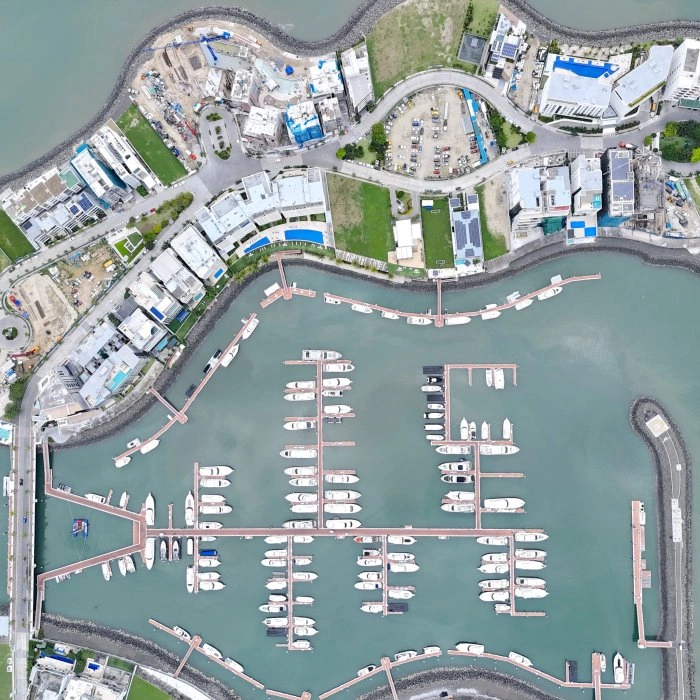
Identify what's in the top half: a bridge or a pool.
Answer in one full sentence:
You can see a pool in the top half.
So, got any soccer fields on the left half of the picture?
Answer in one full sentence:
No, no soccer field can be made out on the left half of the picture.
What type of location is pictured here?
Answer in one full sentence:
What you see here is a port.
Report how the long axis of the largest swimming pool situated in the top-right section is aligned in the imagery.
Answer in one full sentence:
What the image shows is the largest swimming pool situated in the top-right section lying from side to side.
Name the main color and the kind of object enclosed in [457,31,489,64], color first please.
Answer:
gray sports court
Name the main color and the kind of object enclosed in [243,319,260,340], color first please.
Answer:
white boat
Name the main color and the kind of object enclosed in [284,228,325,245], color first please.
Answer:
blue swimming pool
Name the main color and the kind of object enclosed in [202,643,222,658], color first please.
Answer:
white boat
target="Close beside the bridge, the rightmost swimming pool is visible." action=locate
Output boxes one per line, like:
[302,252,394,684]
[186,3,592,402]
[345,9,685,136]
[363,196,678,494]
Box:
[40,651,76,664]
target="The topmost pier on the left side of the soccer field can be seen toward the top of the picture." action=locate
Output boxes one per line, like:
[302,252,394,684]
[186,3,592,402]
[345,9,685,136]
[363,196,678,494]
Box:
[261,250,317,307]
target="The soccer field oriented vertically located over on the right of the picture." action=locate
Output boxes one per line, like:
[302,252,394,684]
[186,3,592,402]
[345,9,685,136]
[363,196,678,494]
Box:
[422,196,456,269]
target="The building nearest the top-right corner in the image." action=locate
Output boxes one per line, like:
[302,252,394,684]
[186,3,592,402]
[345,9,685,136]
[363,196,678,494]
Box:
[665,38,700,102]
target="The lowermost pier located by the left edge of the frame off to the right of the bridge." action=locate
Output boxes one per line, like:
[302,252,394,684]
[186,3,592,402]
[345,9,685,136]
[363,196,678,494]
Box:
[35,444,145,634]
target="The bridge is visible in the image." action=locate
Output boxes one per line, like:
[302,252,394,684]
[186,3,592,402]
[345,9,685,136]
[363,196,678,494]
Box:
[12,418,37,650]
